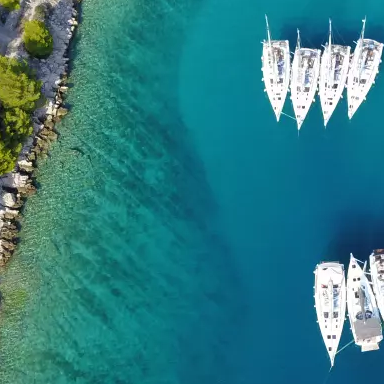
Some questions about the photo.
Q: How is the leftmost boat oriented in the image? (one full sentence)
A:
The leftmost boat is laid out from top to bottom.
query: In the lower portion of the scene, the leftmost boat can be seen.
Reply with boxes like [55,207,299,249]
[314,255,346,384]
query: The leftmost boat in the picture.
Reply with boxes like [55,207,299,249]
[262,10,291,127]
